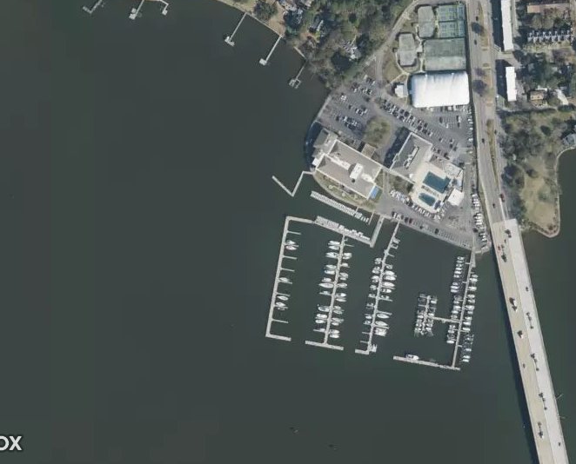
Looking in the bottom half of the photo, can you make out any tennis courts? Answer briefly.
No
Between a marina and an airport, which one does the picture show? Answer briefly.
marina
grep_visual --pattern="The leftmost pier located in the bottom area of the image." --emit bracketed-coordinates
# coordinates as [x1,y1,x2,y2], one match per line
[265,216,313,344]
